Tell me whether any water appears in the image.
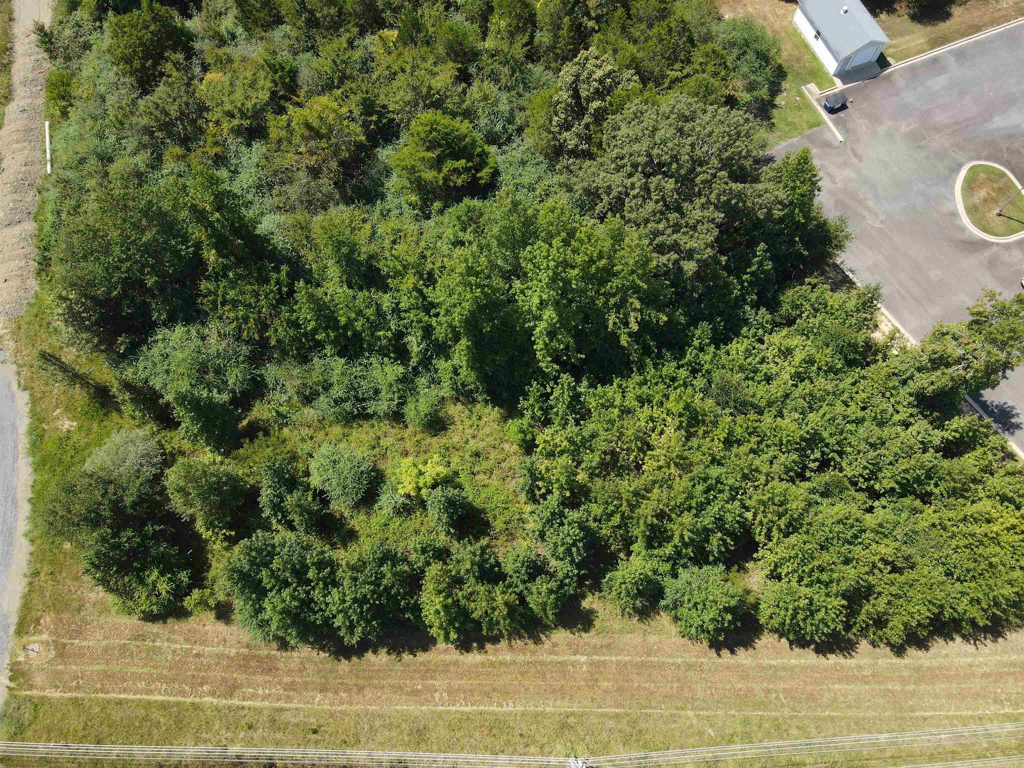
No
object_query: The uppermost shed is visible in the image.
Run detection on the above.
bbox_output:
[788,0,893,76]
